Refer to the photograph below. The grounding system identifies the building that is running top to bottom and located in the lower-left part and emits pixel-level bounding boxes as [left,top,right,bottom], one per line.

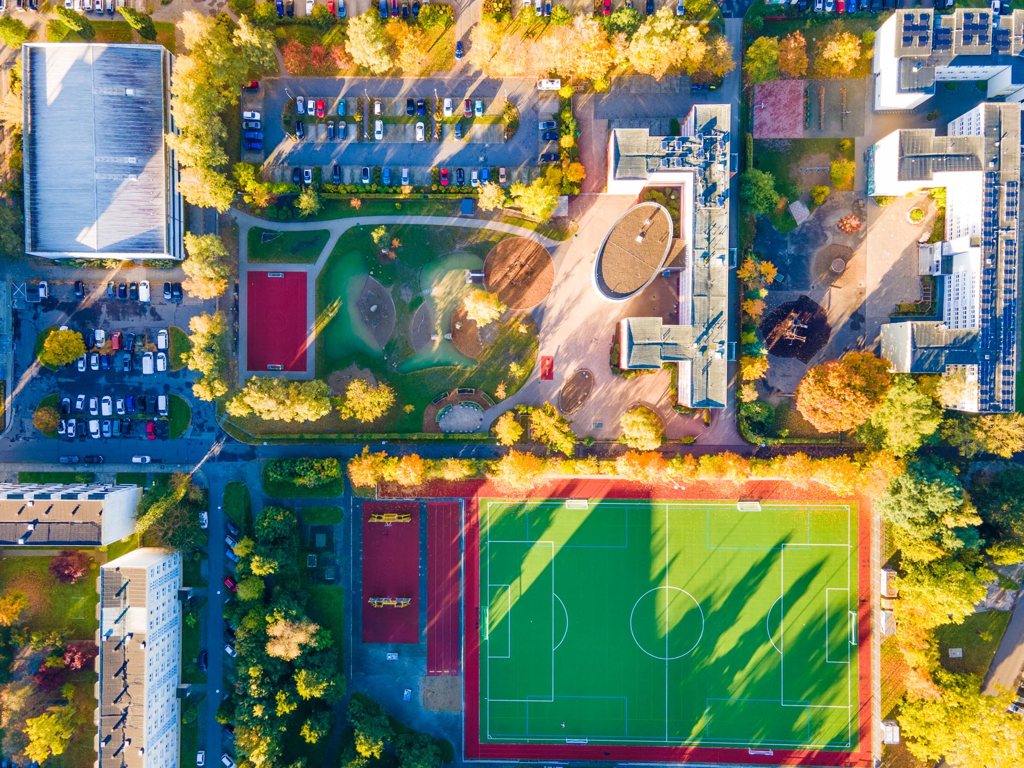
[97,549,191,768]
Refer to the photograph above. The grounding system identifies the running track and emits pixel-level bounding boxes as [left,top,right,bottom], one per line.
[377,478,873,765]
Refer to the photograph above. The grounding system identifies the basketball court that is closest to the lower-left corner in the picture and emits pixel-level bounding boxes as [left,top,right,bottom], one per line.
[363,502,419,643]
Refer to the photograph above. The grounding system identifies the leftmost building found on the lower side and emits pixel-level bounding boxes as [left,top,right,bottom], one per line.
[0,482,142,545]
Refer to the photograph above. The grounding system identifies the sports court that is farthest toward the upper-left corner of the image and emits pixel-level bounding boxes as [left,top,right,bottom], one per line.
[247,272,308,371]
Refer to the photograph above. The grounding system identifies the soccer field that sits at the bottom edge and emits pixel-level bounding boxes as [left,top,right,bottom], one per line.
[479,499,859,752]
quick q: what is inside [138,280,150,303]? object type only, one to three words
vehicle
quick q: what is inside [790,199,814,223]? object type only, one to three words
shed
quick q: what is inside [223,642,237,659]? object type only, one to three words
car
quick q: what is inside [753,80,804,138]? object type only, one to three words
sports court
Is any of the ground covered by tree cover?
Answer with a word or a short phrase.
Yes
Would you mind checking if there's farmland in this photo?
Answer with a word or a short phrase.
No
